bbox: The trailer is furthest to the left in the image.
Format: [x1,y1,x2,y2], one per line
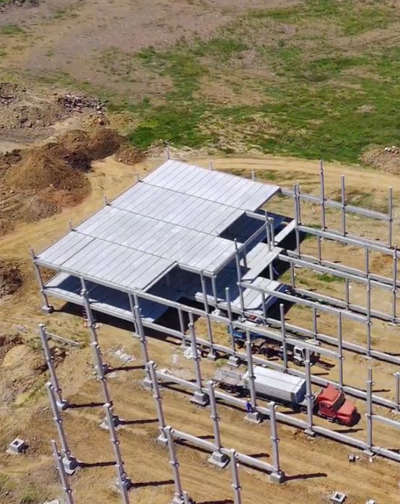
[212,364,248,392]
